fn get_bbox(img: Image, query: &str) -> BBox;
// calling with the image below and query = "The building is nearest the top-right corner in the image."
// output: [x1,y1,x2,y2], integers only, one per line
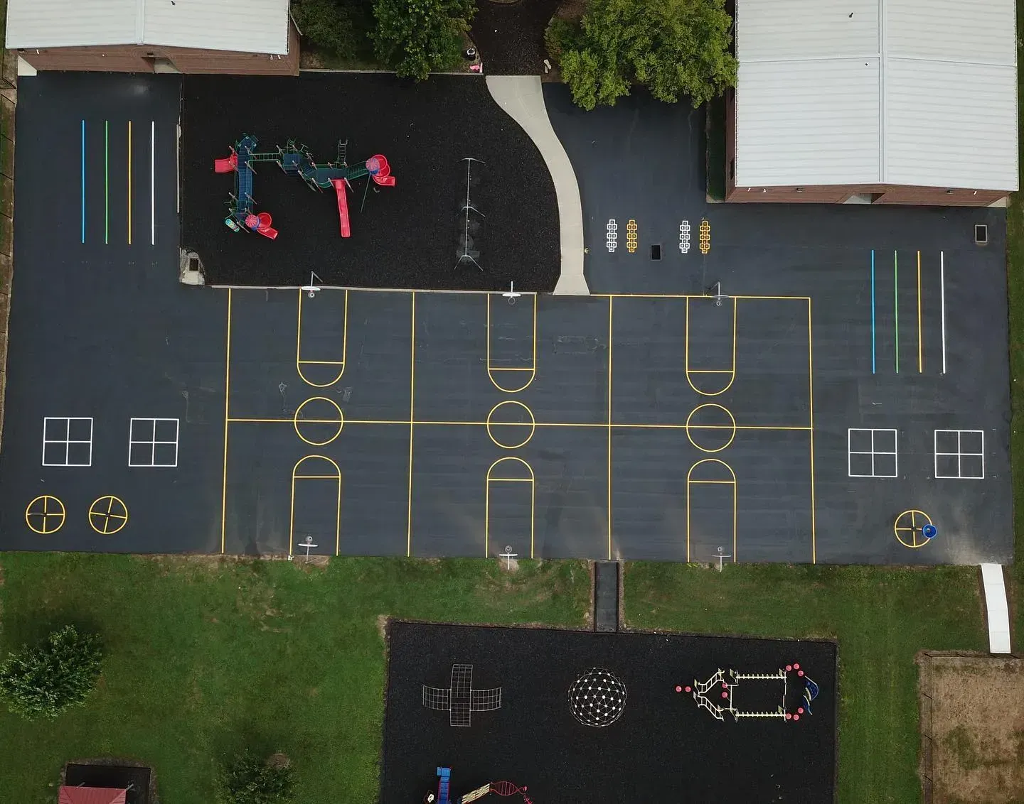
[722,0,1020,206]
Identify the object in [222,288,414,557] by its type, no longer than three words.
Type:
basketball court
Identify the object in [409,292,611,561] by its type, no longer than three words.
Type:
basketball court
